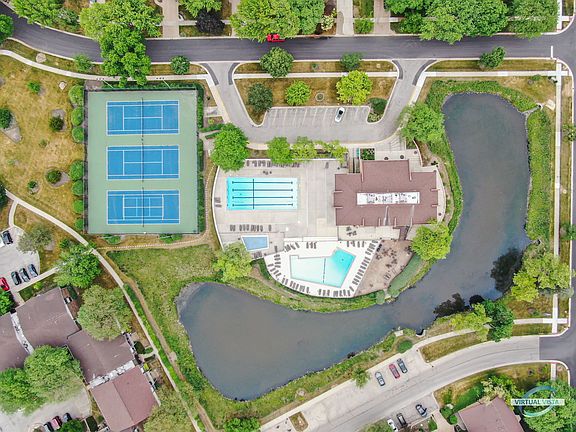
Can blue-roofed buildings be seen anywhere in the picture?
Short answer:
No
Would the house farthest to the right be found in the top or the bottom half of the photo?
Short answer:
bottom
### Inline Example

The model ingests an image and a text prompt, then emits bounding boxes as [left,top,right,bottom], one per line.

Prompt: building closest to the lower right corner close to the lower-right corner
[455,394,517,432]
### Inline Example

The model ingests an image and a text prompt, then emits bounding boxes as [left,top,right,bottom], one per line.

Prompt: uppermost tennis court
[88,91,196,141]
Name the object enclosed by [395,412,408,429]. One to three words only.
vehicle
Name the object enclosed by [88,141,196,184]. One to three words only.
tennis court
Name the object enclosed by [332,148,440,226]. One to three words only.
building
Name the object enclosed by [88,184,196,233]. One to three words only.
tennis court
